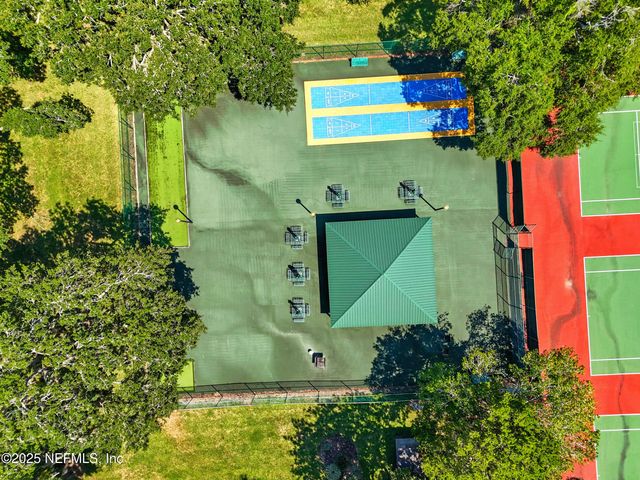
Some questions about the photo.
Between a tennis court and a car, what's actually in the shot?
tennis court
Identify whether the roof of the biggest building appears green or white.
green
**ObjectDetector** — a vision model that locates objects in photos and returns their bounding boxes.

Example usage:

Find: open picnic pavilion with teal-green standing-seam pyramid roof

[324,215,438,329]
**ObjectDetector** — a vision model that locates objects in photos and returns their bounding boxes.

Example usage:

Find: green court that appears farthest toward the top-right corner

[577,94,640,217]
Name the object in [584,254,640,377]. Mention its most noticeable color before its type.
green tennis court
